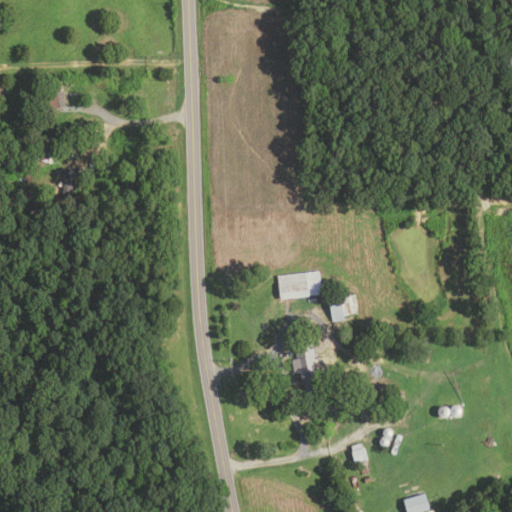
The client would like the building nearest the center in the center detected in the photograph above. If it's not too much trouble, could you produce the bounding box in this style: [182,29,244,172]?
[277,270,322,300]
